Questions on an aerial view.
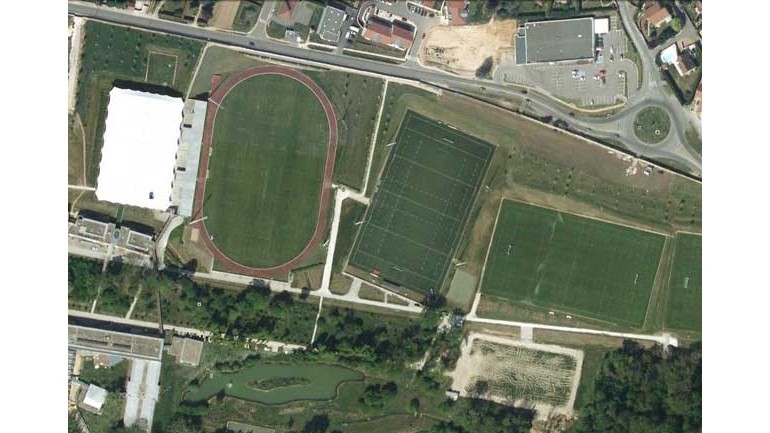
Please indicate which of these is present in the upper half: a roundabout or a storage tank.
roundabout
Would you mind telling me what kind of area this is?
sports ground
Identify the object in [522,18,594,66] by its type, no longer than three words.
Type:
building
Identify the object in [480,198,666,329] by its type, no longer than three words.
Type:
soccer field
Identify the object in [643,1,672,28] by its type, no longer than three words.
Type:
house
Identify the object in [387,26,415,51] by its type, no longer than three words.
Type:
house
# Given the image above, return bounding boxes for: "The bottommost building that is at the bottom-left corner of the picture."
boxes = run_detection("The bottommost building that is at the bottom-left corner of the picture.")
[78,383,107,416]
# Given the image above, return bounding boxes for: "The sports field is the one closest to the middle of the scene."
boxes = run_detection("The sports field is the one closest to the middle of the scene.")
[346,108,497,301]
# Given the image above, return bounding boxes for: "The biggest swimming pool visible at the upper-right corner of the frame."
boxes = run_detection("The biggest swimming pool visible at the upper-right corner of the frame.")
[661,44,678,63]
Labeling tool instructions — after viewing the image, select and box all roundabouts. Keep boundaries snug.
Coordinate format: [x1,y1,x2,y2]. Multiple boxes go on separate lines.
[623,95,682,155]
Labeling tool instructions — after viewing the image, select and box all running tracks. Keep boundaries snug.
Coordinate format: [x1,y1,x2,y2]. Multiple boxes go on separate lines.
[183,65,337,277]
